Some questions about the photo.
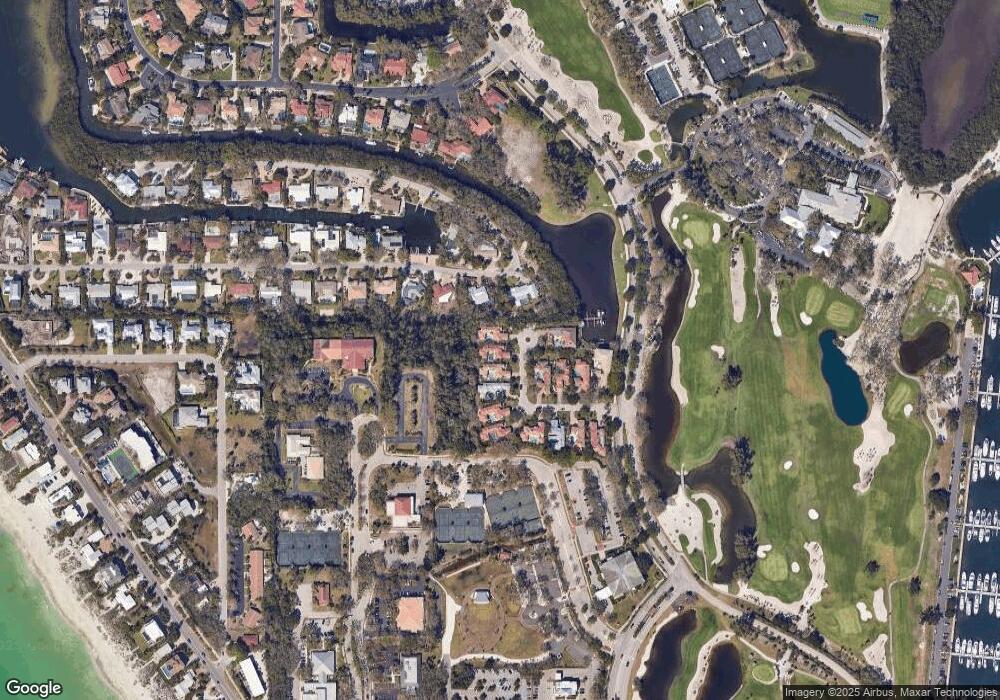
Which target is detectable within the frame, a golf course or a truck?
golf course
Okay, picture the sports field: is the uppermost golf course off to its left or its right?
left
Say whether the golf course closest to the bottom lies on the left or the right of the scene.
right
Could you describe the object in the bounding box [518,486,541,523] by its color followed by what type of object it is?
gray tennis court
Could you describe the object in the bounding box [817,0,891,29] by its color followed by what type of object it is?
green sports field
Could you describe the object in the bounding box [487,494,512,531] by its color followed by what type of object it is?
gray tennis court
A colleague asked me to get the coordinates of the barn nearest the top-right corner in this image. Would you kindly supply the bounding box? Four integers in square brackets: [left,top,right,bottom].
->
[820,106,872,149]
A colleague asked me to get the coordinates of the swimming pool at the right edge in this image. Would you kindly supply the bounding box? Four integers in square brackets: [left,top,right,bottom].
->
[970,284,984,304]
